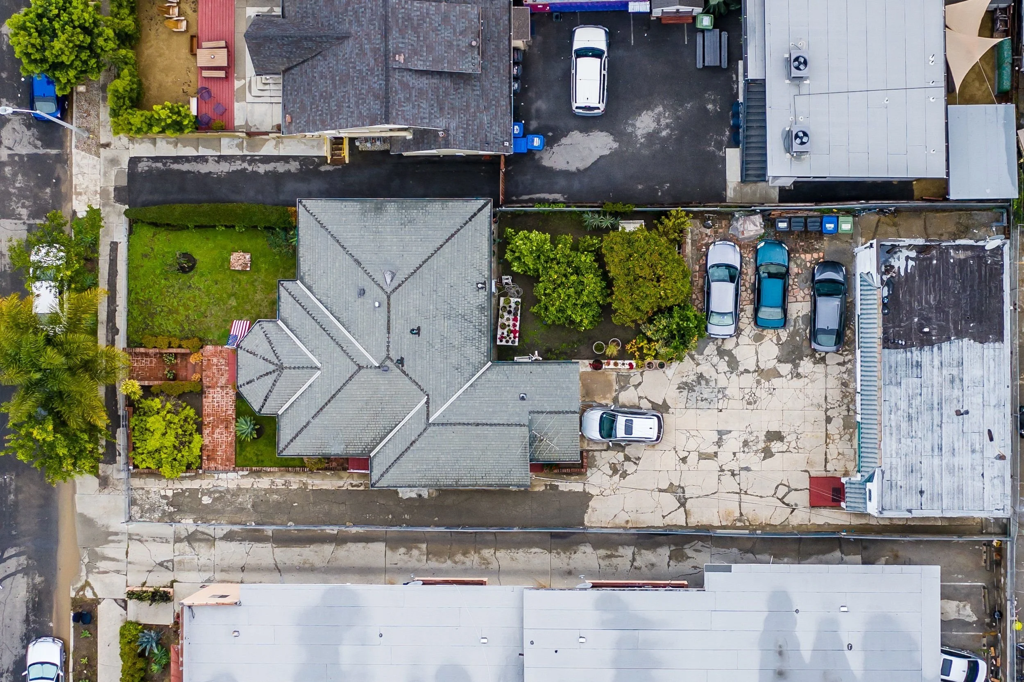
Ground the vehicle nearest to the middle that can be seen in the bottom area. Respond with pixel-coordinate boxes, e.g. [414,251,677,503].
[582,404,665,450]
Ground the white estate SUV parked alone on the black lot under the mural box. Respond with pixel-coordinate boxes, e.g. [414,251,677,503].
[568,22,615,117]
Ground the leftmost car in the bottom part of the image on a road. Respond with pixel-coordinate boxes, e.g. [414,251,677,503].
[15,635,62,682]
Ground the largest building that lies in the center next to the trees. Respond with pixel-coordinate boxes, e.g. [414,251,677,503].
[228,196,581,491]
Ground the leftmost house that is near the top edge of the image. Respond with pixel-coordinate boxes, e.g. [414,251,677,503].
[243,0,515,156]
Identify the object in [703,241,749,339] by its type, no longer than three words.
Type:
car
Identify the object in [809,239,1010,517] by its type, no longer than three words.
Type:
shed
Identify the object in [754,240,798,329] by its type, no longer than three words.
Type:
car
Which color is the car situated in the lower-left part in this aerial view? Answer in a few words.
white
